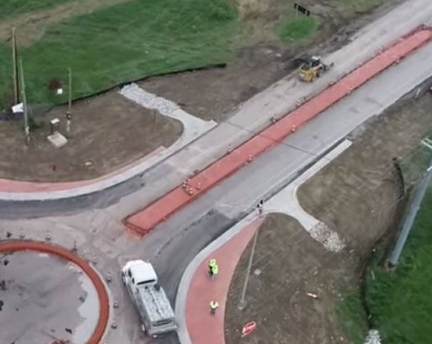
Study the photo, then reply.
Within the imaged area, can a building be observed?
No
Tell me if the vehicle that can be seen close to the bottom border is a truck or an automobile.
truck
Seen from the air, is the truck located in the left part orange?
No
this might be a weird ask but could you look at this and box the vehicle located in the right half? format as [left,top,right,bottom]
[301,54,334,84]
